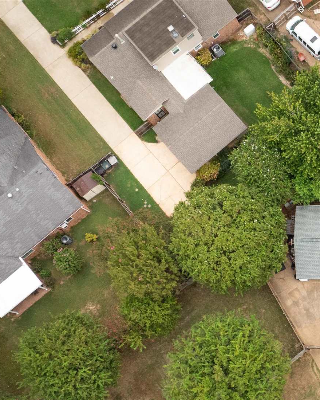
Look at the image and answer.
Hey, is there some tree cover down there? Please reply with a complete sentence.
Yes, there's tree cover in this view.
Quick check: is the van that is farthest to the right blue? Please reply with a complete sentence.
No, the color of the van that is farthest to the right is white.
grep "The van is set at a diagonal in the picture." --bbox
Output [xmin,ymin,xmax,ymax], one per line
[283,10,320,61]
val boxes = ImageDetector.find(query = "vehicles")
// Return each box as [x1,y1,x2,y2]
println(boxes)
[256,0,277,12]
[283,10,320,61]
